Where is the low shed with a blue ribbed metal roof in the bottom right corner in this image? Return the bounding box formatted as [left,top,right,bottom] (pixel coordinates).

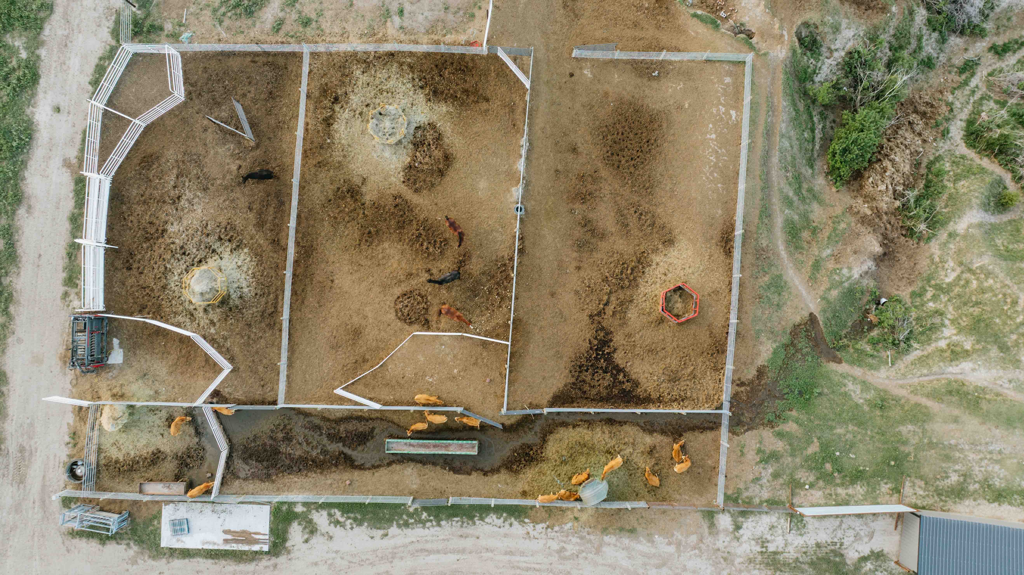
[898,510,1024,575]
